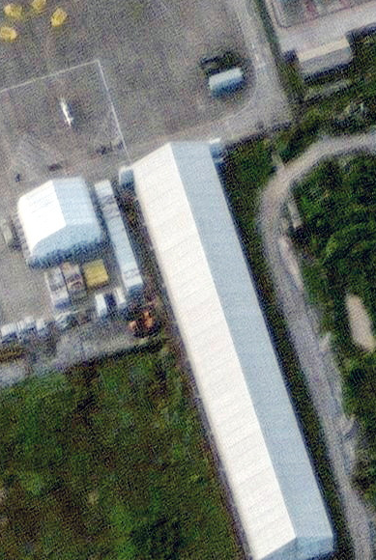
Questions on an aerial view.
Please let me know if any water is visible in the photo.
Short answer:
No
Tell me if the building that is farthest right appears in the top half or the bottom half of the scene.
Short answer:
top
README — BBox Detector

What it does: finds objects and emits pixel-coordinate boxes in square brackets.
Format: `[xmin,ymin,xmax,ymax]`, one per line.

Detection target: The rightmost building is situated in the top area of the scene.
[296,39,354,79]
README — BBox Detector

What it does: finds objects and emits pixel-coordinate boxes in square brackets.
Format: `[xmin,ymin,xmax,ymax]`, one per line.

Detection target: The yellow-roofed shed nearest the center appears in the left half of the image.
[84,260,108,287]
